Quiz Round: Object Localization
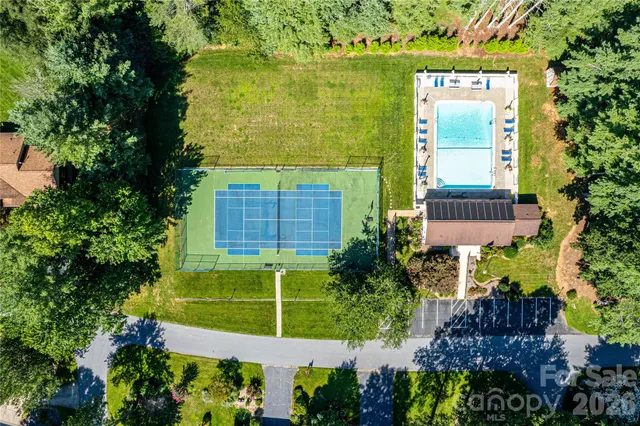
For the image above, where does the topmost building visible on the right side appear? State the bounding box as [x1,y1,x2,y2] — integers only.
[425,199,542,247]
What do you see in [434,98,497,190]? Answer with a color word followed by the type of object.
white swimming pool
